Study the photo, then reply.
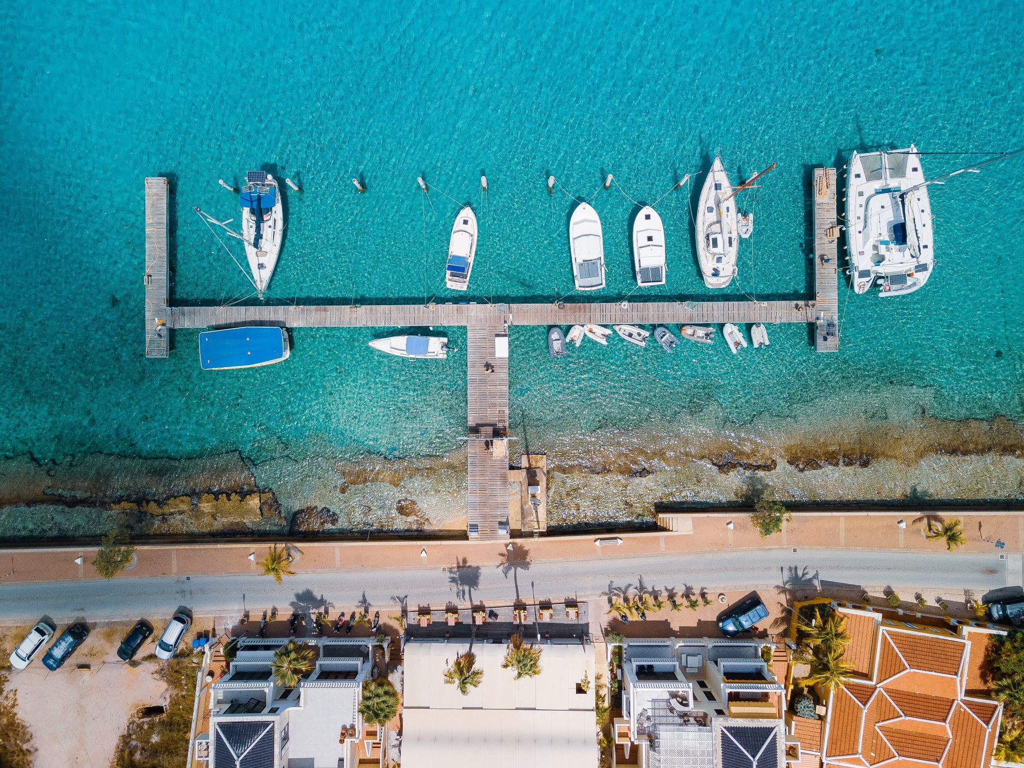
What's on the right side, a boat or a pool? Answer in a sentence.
The feature located on the right side is a boat.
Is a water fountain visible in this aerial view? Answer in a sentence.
No, no water fountain is visible in the view.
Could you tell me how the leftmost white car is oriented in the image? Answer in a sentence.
In this picture, the leftmost white car is oriented on a diagonal.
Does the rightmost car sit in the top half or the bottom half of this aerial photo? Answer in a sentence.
You can find the rightmost car in the bottom half.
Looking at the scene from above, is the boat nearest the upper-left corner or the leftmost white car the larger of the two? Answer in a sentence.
The boat is bigger than the car.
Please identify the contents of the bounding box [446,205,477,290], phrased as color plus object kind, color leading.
white boat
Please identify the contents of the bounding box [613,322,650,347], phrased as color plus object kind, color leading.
white boat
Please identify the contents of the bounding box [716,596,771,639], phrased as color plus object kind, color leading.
blue vehicle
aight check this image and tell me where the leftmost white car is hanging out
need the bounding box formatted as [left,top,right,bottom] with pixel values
[10,620,55,668]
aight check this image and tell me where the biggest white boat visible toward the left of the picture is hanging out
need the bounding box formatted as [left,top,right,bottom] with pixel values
[191,171,284,298]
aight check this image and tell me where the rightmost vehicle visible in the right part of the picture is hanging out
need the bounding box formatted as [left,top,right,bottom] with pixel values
[982,595,1024,625]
